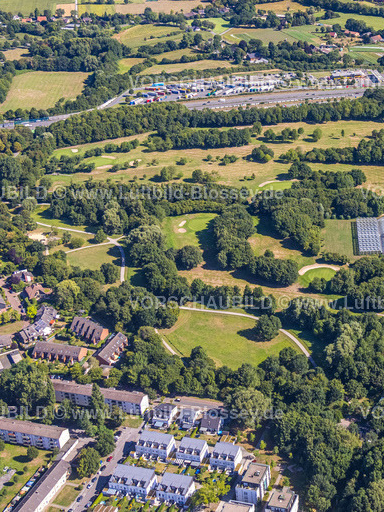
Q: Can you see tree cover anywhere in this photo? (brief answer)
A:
Yes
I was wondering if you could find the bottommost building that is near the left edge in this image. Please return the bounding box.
[11,462,73,512]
